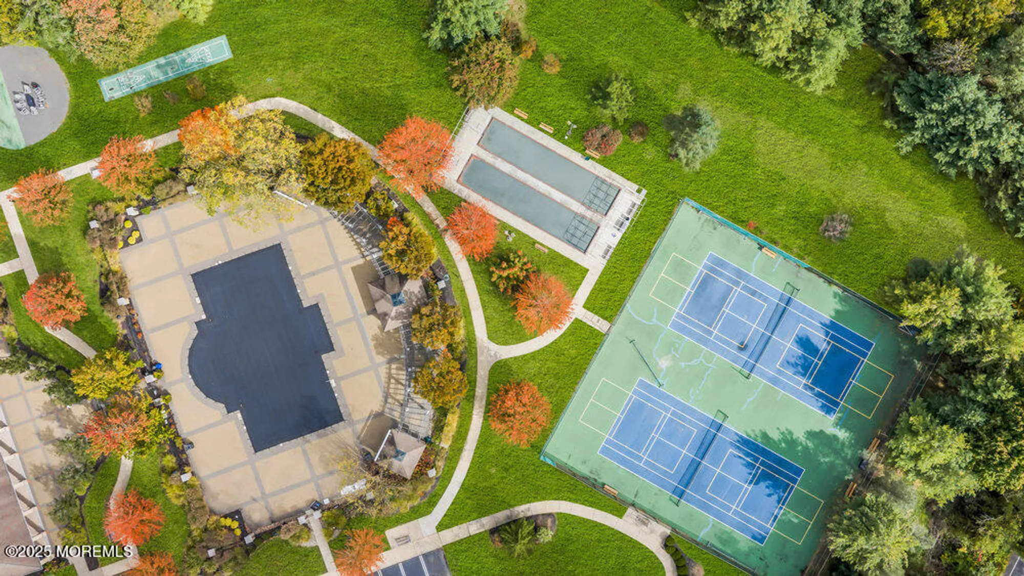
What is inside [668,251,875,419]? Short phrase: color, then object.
blue tennis court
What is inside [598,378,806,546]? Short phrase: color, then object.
blue tennis court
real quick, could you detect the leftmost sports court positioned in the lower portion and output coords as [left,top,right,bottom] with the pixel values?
[580,379,697,474]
